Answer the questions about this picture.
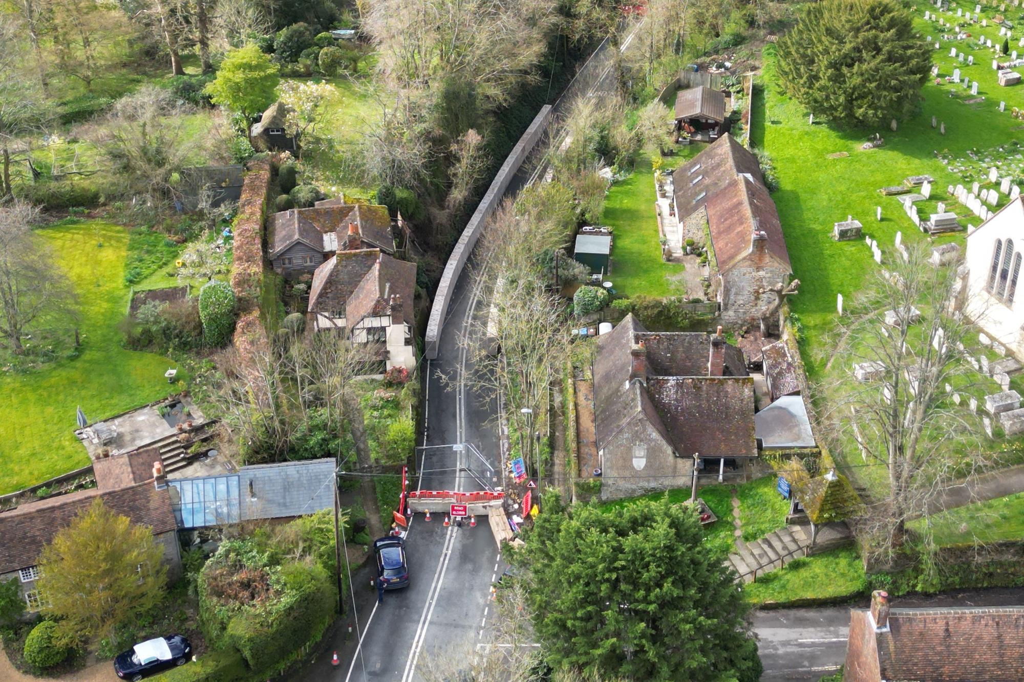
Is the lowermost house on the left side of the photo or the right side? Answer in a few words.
right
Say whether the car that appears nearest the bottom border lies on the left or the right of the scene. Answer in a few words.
left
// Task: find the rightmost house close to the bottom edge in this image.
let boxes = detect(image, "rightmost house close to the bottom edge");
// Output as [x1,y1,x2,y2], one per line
[839,584,1024,682]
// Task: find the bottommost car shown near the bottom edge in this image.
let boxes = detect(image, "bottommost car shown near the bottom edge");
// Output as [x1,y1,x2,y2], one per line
[123,636,201,681]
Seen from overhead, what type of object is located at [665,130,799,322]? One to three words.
house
